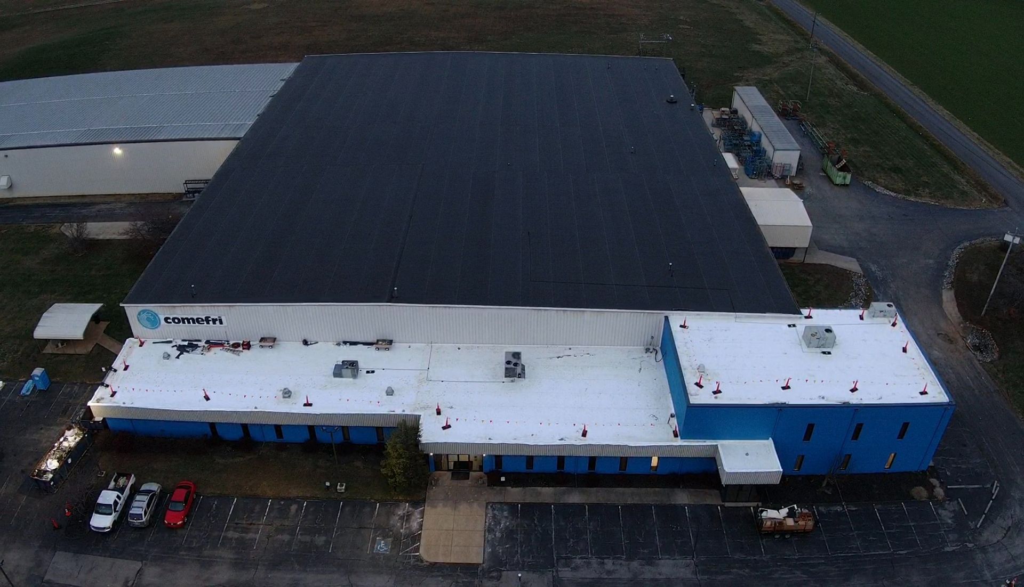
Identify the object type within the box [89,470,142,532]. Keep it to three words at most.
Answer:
truck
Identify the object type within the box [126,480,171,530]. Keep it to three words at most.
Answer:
car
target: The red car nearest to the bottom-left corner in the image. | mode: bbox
[161,478,200,528]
